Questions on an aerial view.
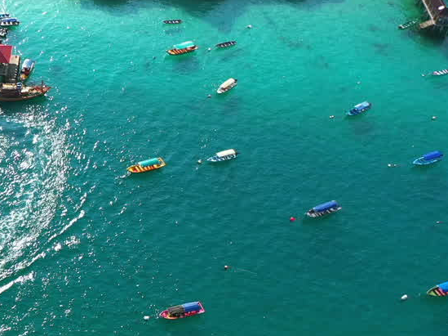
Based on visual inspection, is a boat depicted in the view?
Yes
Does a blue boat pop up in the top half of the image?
Yes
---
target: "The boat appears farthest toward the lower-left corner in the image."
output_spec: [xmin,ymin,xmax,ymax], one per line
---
[159,299,205,318]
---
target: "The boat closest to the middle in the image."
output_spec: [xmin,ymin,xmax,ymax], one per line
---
[207,150,239,163]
